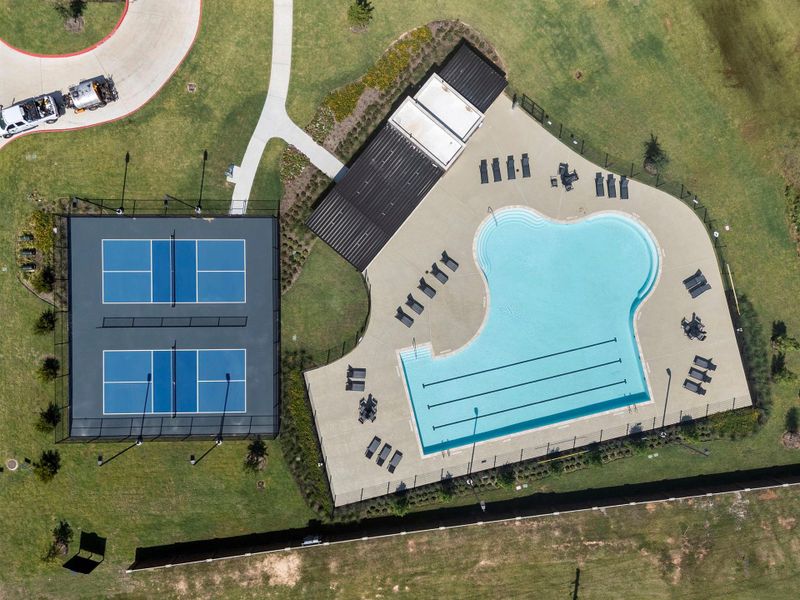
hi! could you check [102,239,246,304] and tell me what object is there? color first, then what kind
blue sports court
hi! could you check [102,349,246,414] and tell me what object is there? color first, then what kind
blue sports court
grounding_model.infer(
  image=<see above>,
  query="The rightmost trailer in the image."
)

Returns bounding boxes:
[60,77,120,116]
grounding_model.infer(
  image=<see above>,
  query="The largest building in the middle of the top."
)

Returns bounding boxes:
[305,44,509,272]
